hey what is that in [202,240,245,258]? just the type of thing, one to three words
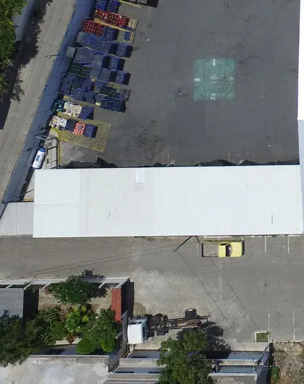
vehicle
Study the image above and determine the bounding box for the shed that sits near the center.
[34,157,304,237]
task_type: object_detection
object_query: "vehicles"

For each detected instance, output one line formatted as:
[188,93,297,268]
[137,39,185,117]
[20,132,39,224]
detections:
[28,141,50,173]
[202,240,245,258]
[130,310,214,349]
